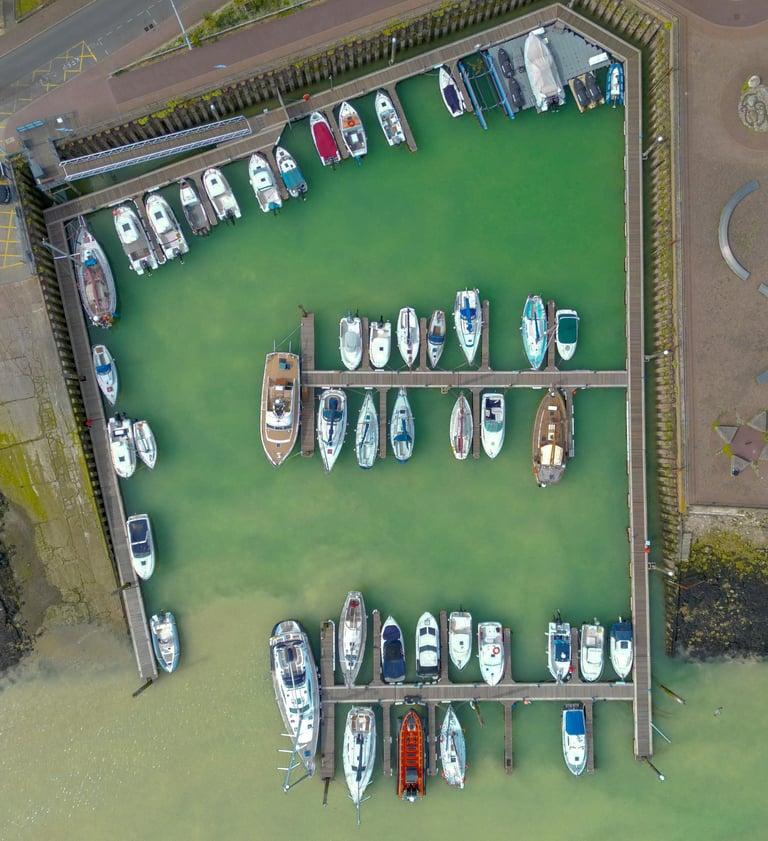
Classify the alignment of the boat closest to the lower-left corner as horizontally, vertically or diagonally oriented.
vertically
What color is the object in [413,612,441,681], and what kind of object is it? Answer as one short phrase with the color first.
white boat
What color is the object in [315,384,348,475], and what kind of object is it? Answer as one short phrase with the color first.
white boat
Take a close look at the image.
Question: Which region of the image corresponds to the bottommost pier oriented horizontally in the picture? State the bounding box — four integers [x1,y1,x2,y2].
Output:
[335,682,634,702]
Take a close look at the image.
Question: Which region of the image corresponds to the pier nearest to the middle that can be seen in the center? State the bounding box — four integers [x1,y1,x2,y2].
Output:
[375,388,391,458]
